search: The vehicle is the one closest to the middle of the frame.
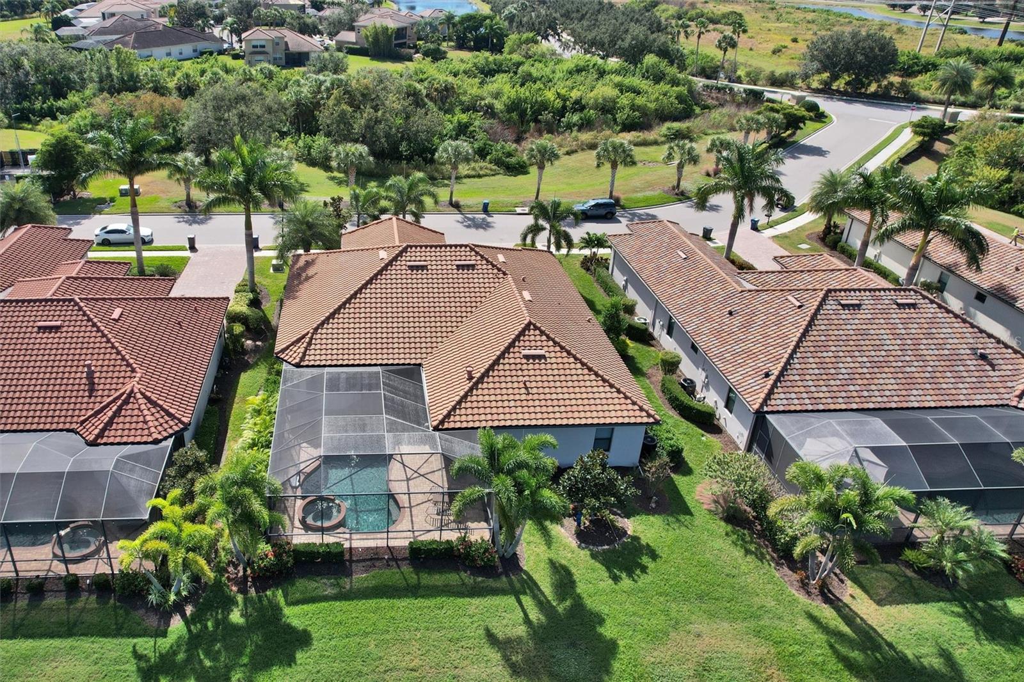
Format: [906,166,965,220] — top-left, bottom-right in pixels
[572,197,620,219]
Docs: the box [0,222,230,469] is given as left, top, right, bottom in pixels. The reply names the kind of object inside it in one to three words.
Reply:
house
